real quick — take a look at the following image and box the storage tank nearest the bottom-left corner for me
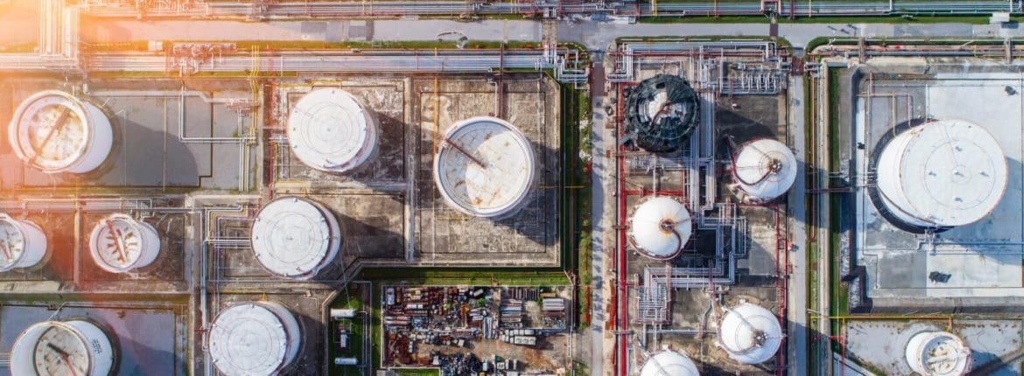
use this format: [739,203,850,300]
[10,301,116,376]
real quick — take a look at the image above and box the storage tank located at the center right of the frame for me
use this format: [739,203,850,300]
[867,108,1009,238]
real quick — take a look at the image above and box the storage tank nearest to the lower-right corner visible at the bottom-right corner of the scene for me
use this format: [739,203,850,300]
[906,329,973,376]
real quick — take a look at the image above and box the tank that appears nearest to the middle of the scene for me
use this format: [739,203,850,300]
[434,117,534,219]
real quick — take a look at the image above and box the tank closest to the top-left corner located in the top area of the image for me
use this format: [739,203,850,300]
[8,91,114,176]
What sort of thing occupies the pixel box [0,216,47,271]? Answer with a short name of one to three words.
storage tank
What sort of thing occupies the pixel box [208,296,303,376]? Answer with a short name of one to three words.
storage tank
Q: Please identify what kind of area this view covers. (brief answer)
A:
industrial area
